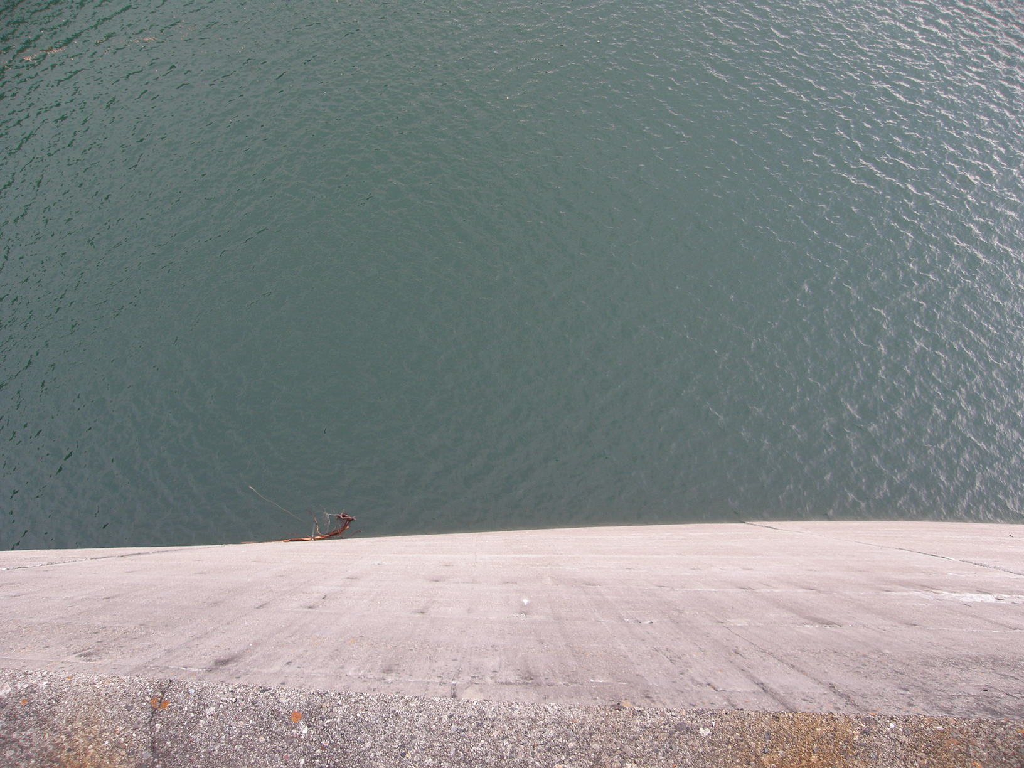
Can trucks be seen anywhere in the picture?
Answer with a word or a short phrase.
No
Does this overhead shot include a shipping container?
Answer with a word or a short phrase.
No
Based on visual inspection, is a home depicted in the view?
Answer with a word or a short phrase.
No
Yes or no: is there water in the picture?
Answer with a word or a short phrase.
Yes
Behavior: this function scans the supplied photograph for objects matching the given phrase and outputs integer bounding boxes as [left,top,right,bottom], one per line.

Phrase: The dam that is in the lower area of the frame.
[0,520,1024,768]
